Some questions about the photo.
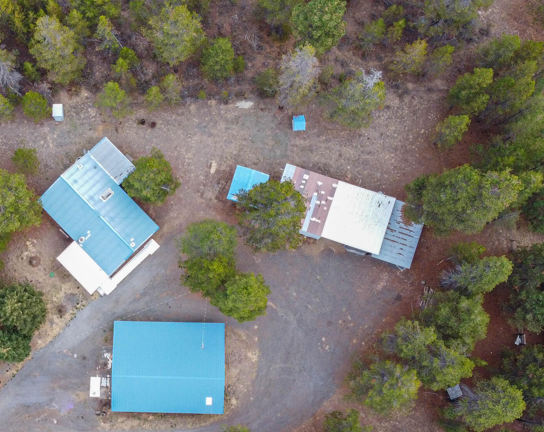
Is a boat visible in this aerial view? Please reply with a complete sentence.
No, no boat is visible in the scene.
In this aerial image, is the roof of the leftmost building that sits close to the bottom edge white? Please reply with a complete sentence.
No, the color of the roof of the leftmost building that sits close to the bottom edge is blue.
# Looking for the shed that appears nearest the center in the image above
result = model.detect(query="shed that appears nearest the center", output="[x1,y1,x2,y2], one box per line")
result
[228,165,270,206]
